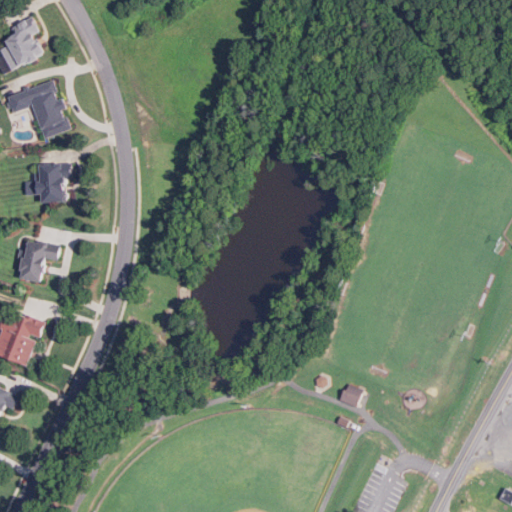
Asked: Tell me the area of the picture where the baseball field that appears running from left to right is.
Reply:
bottom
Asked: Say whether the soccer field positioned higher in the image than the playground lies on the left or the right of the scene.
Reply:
right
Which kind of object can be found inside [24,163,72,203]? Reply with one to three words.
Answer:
house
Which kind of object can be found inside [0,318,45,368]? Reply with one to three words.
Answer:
house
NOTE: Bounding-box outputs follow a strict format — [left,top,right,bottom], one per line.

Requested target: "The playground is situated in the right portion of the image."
[402,388,426,411]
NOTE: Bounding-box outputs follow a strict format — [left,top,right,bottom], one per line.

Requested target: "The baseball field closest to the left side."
[92,406,352,512]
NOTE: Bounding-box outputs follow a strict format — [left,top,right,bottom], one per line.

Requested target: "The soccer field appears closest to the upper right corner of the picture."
[338,84,512,385]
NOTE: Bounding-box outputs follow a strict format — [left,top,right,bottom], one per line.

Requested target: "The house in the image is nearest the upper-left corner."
[0,16,46,74]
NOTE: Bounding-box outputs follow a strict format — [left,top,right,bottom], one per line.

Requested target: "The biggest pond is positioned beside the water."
[190,158,336,362]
